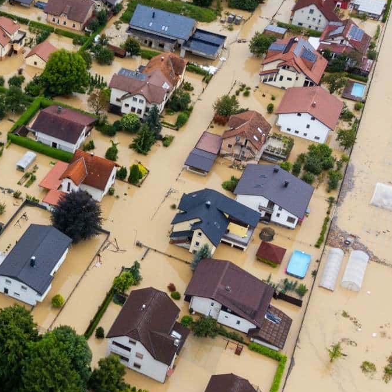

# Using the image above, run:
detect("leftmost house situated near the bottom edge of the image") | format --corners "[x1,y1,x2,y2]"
[103,288,207,383]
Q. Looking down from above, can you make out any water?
Yes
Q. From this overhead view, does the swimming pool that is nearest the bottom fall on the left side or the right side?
right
